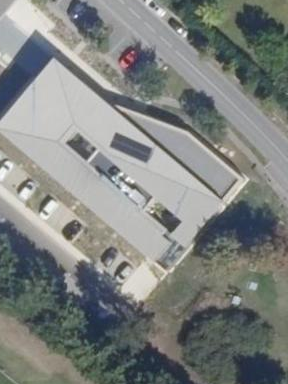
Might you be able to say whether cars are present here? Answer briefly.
Yes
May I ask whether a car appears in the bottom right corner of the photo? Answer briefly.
No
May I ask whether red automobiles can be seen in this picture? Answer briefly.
Yes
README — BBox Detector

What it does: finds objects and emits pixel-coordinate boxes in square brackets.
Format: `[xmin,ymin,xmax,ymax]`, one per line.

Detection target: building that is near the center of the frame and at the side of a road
[0,58,250,274]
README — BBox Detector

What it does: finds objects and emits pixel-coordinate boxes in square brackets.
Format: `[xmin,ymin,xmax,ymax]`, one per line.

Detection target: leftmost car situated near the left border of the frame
[0,159,13,180]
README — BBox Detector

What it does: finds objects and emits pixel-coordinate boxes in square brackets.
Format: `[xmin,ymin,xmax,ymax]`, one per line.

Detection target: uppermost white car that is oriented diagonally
[144,0,164,16]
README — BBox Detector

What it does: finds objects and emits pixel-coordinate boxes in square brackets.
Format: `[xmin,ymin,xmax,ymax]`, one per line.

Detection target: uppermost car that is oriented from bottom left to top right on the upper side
[66,0,86,22]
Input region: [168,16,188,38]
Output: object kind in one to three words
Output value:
car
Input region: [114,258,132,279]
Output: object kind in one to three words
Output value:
car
